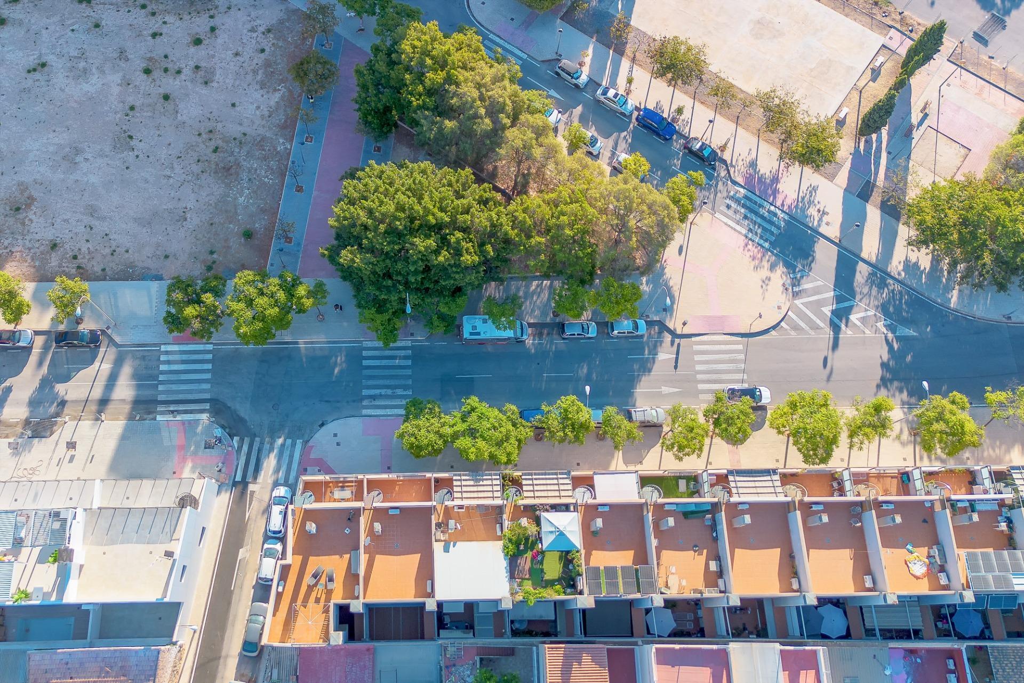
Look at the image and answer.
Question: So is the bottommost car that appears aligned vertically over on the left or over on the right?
left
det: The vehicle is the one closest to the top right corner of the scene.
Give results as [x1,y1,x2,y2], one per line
[680,136,721,167]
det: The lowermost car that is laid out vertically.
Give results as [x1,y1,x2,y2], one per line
[242,602,268,658]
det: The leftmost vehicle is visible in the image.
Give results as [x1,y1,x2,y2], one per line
[0,327,33,348]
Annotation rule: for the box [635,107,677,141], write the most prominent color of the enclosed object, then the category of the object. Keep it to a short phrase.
blue car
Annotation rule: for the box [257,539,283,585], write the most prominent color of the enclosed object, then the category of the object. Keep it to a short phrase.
white car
